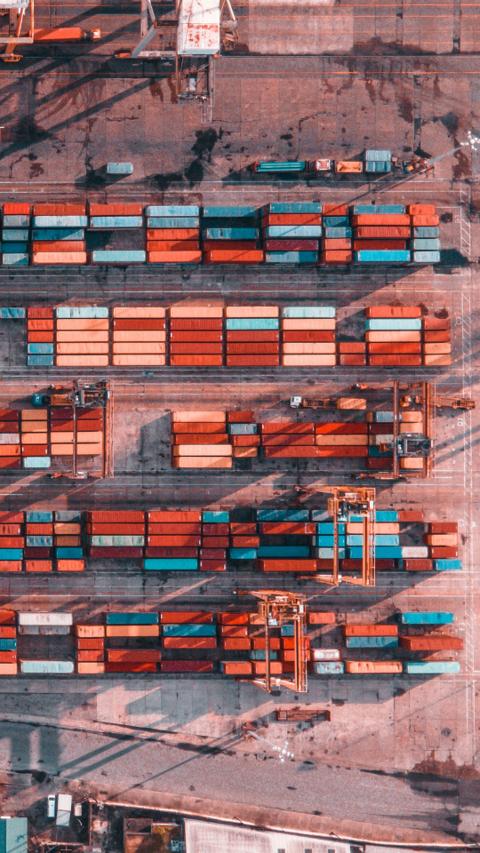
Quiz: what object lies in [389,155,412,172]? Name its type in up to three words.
work vehicle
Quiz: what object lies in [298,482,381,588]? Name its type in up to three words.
container crane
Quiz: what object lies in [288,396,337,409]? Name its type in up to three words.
vehicle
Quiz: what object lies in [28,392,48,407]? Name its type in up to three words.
vehicle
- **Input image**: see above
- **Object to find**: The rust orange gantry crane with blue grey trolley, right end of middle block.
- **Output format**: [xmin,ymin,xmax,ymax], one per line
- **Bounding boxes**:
[354,377,441,482]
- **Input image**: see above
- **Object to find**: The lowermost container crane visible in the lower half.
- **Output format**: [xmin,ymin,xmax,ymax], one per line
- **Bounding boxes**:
[234,585,312,697]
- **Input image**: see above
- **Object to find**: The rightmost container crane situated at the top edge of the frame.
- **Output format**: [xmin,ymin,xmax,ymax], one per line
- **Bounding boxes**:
[122,0,252,123]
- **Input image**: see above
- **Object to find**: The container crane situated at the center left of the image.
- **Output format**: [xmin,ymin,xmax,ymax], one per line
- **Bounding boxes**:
[50,377,116,482]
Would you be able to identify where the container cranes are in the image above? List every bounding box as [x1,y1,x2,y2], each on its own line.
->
[354,377,441,482]
[234,585,312,697]
[50,377,116,482]
[298,482,381,588]
[122,0,252,123]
